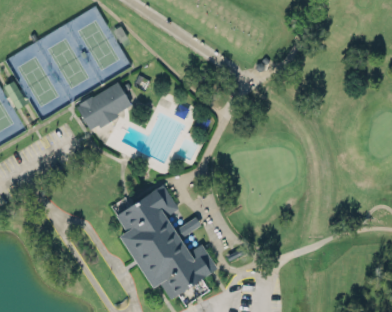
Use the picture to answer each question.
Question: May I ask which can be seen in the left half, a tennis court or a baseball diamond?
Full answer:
There is a tennis court in the left half.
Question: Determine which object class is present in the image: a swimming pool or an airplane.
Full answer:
Looking from above, you can make out a swimming pool.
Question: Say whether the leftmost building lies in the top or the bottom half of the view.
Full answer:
The top half of the photo is where the leftmost building is.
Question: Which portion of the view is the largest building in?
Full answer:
The largest building appears toward the bottom of the photo.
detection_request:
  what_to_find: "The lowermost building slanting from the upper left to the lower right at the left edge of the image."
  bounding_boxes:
[4,81,28,110]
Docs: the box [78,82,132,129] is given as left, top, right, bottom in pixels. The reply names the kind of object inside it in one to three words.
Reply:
building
